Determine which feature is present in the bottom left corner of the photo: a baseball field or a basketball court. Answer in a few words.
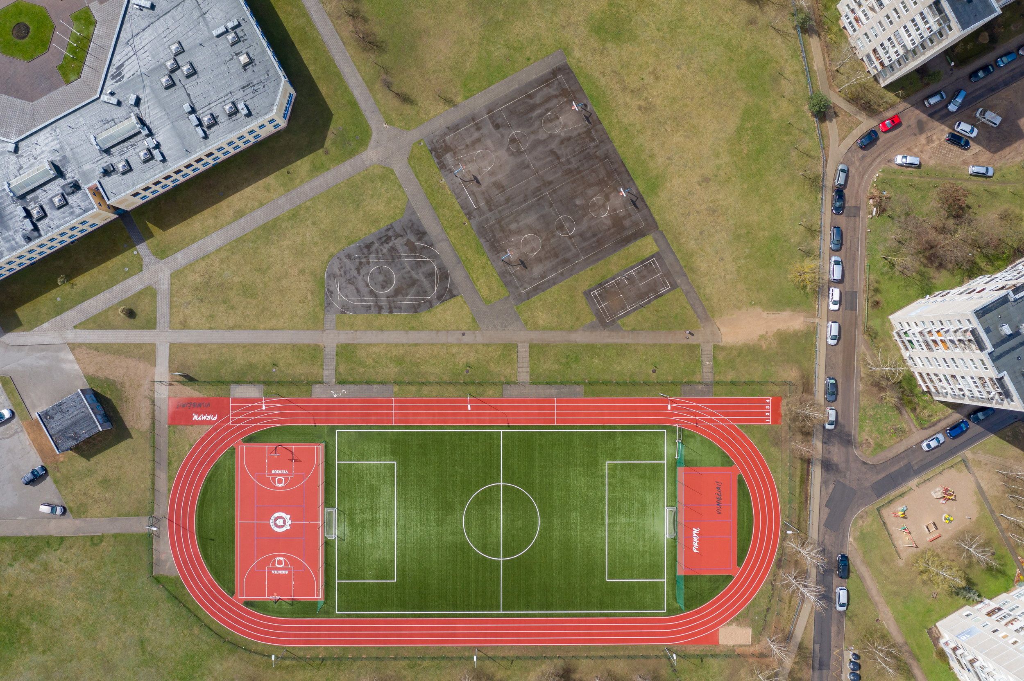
basketball court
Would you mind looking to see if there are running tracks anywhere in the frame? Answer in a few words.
Yes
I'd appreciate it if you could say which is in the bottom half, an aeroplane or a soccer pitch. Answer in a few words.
soccer pitch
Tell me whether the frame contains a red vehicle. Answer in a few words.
Yes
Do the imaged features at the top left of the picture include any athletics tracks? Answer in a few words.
No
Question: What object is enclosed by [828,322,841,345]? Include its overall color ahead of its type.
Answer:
white vehicle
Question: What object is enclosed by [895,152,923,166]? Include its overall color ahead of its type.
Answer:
white vehicle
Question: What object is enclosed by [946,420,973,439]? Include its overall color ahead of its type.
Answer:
blue vehicle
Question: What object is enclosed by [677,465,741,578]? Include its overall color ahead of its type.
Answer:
red sports court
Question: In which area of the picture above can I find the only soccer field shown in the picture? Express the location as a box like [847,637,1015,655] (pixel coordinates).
[195,425,753,619]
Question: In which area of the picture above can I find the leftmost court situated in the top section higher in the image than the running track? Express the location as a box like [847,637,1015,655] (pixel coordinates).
[324,200,462,314]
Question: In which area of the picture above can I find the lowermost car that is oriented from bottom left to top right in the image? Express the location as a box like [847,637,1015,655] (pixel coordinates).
[19,466,46,486]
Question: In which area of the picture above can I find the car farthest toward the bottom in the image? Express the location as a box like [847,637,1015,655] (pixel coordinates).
[836,588,849,612]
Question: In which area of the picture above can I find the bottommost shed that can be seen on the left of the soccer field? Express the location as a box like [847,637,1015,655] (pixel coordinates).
[35,388,114,455]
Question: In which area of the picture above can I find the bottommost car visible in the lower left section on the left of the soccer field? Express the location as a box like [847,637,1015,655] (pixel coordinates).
[36,504,64,517]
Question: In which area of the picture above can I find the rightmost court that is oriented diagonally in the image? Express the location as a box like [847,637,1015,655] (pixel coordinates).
[577,251,680,332]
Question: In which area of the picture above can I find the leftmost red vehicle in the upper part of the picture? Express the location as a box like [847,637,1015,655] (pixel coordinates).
[879,113,905,131]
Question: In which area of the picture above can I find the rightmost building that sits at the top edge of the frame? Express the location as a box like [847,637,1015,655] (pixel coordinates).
[836,0,1024,87]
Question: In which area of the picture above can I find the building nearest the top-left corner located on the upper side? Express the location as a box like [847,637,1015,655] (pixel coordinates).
[0,0,299,279]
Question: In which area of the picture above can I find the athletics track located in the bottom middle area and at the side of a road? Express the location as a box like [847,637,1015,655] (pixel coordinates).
[167,397,782,647]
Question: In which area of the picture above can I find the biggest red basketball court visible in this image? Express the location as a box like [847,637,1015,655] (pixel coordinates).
[232,441,324,605]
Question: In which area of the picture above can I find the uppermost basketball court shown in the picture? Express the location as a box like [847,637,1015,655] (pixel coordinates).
[423,60,613,222]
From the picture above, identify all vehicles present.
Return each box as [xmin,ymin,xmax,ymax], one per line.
[0,407,16,423]
[836,588,849,612]
[831,257,843,280]
[826,377,838,403]
[977,106,1005,126]
[831,225,844,251]
[971,407,996,424]
[838,555,851,579]
[828,322,841,345]
[921,433,948,453]
[895,152,923,166]
[946,420,973,439]
[948,86,971,113]
[836,161,850,187]
[946,130,973,149]
[970,62,998,81]
[36,504,64,517]
[829,286,842,312]
[19,466,46,486]
[969,164,996,176]
[923,88,950,107]
[833,188,845,214]
[857,129,880,148]
[825,406,838,432]
[956,119,980,137]
[879,113,905,131]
